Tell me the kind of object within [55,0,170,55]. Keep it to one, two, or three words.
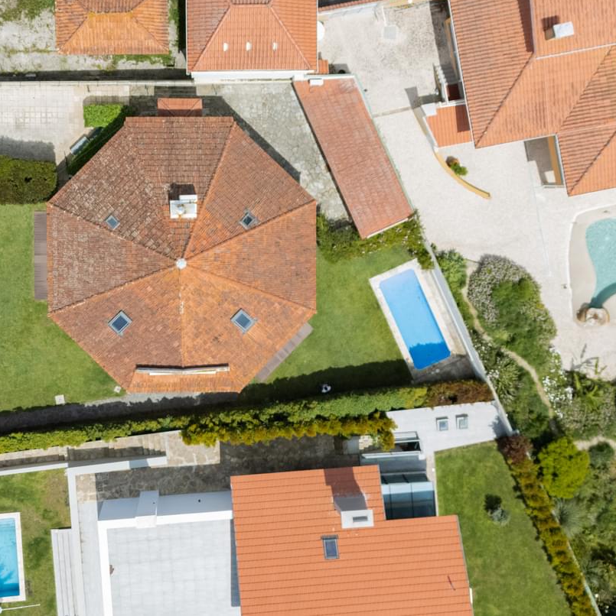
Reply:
shed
